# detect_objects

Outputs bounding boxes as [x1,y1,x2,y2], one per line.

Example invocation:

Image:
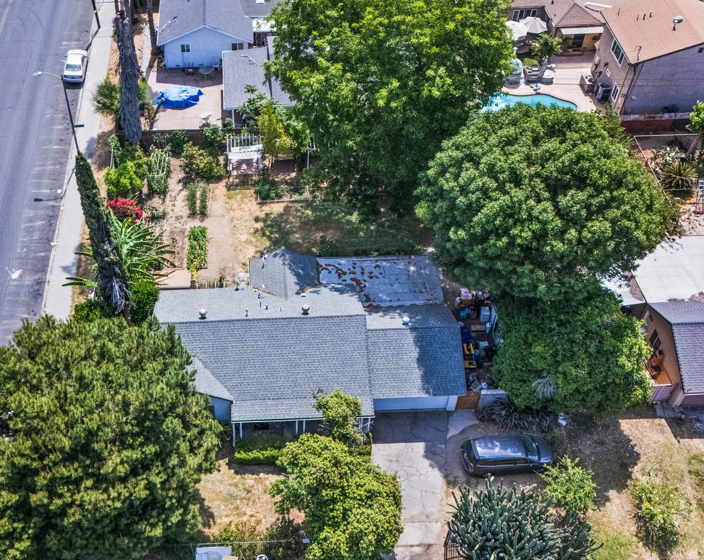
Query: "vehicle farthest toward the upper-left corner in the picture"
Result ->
[61,53,88,89]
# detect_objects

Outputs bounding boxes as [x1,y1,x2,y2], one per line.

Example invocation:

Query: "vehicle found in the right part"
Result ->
[462,437,556,481]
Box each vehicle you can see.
[61,53,88,89]
[462,437,556,481]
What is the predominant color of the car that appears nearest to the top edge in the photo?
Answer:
white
